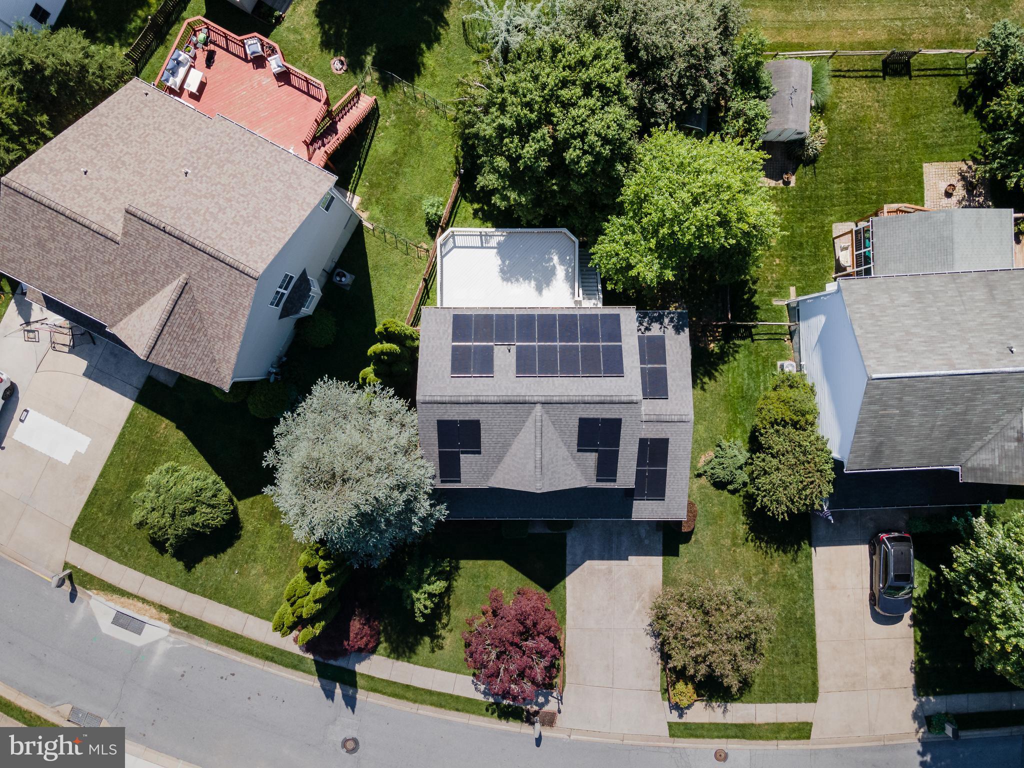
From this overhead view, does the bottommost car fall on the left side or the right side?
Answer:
right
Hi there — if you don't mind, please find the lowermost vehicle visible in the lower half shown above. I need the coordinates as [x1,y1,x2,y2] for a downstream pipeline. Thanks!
[872,529,919,616]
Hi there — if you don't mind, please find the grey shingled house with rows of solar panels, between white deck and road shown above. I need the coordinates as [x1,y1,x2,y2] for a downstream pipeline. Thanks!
[416,305,695,522]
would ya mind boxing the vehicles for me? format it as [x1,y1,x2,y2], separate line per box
[872,529,919,616]
[0,371,14,411]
